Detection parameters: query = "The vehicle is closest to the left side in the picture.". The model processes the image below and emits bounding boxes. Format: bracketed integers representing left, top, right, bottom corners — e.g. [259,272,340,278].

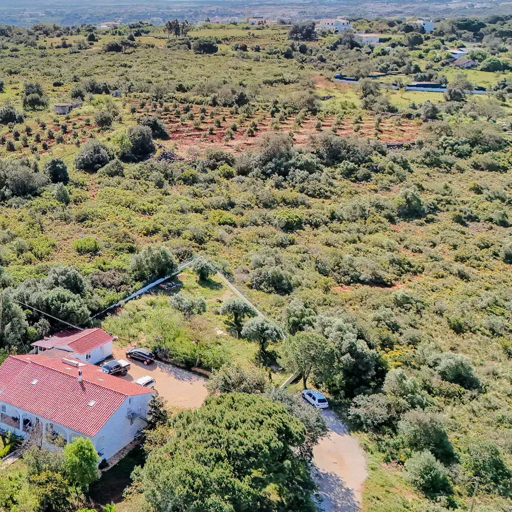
[96,359,137,376]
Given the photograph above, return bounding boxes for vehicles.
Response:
[129,373,161,391]
[299,392,334,410]
[96,359,137,376]
[123,348,158,365]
